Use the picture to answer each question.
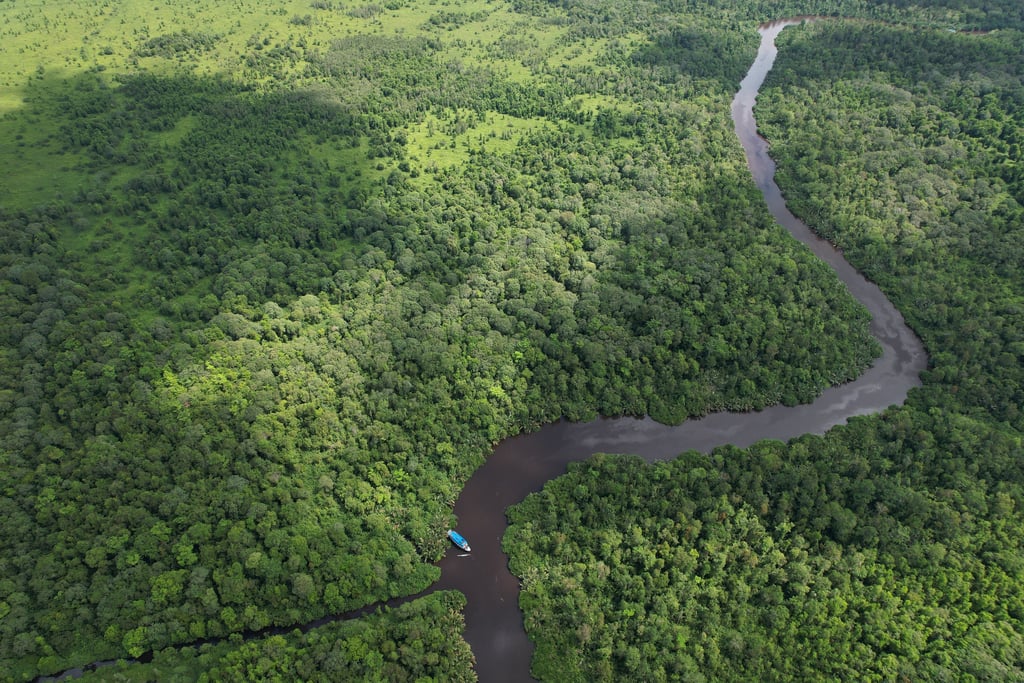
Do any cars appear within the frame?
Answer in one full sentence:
No, I can see no car in this picture.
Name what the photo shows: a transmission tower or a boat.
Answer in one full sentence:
This aerial view contains a boat.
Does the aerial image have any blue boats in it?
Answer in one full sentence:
Yes, you can see a blue boat in this photo.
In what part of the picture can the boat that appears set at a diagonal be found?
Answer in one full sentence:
The boat that appears set at a diagonal is located in the bottom region of the scene.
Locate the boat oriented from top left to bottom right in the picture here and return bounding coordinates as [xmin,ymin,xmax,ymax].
[446,528,471,552]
